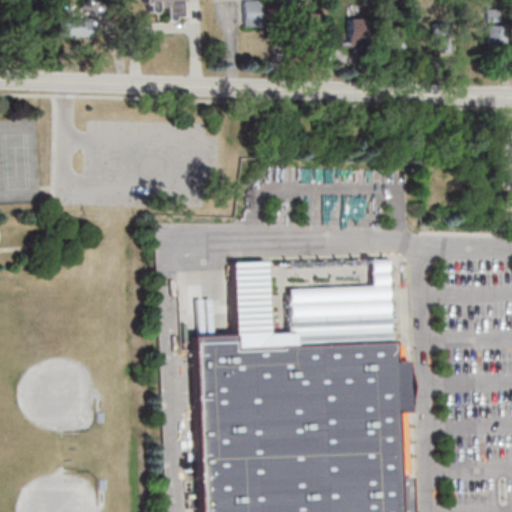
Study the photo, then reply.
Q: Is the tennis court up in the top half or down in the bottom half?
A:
top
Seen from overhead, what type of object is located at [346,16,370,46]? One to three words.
house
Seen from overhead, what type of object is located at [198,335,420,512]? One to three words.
building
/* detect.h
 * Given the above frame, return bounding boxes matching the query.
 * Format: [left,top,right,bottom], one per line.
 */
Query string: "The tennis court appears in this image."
[0,121,38,204]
